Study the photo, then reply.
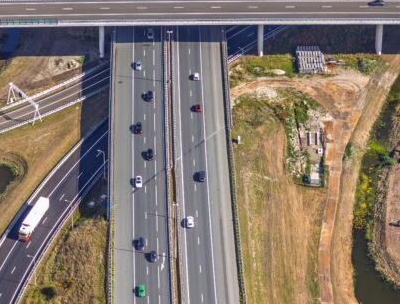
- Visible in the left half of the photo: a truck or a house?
truck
